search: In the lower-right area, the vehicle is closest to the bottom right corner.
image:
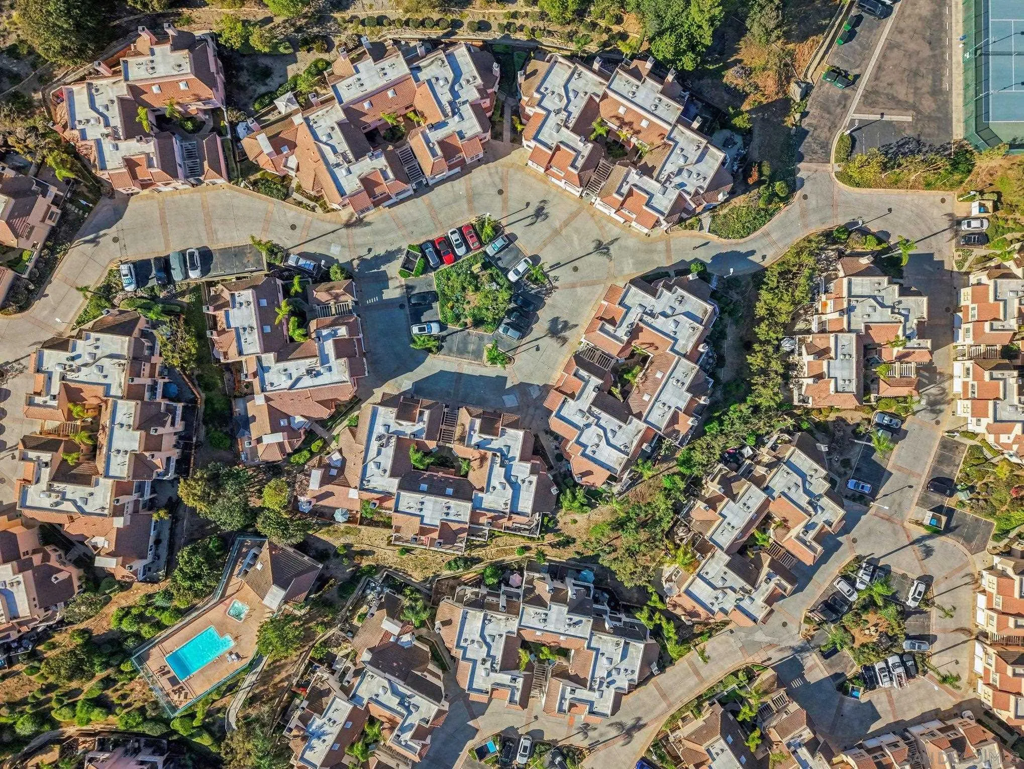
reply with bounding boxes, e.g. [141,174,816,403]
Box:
[955,700,979,726]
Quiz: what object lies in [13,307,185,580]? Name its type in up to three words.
building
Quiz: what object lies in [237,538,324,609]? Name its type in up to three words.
building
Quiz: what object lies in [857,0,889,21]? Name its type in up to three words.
car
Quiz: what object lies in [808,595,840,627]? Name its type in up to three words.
truck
